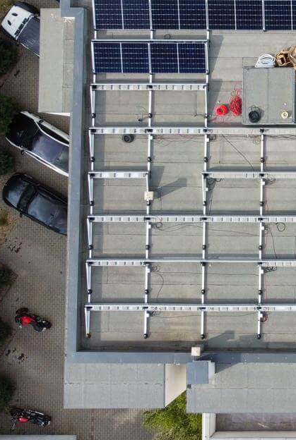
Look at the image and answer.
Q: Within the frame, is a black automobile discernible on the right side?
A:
No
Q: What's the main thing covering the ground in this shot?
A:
buildings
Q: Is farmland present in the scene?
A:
No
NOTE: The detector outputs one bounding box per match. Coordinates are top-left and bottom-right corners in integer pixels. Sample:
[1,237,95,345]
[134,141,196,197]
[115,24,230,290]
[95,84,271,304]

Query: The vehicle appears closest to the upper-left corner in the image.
[1,2,41,54]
